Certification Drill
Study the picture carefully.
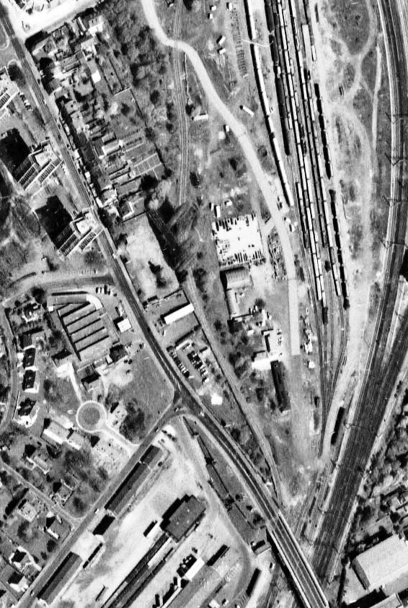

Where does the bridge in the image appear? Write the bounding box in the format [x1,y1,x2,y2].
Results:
[267,509,325,608]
